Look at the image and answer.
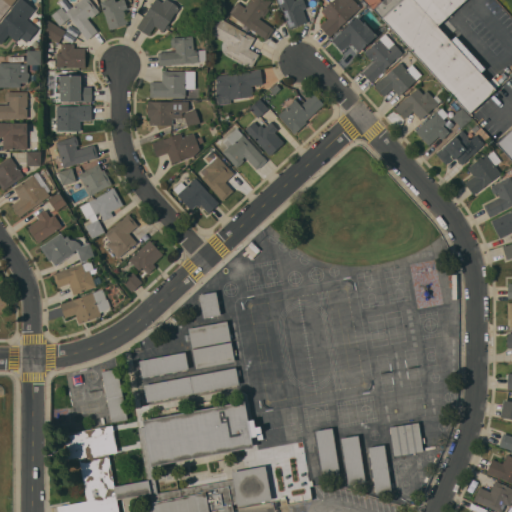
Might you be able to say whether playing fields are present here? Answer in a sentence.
Yes, the picture does show a playing field.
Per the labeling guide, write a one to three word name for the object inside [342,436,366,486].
building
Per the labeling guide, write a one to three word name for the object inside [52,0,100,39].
house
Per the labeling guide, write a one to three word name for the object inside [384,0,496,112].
warehouse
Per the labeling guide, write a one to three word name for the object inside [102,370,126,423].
building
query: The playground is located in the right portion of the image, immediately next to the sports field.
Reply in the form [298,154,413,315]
[410,260,444,310]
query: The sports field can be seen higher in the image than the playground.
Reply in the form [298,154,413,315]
[270,150,440,266]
